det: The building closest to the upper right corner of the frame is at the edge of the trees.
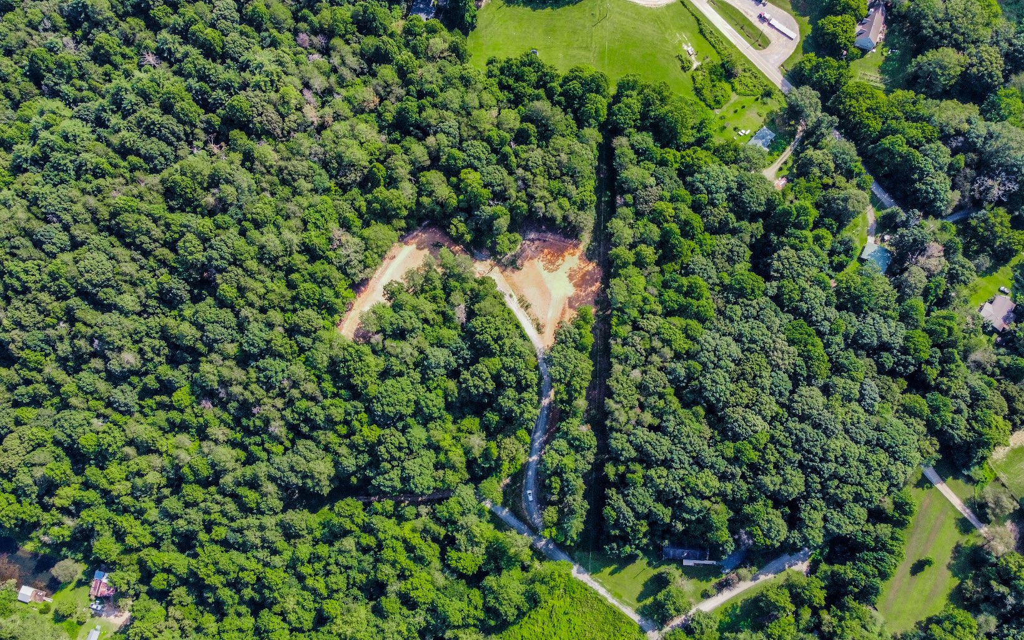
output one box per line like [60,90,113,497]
[852,0,889,47]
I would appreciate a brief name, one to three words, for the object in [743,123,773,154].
house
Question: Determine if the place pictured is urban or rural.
rural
